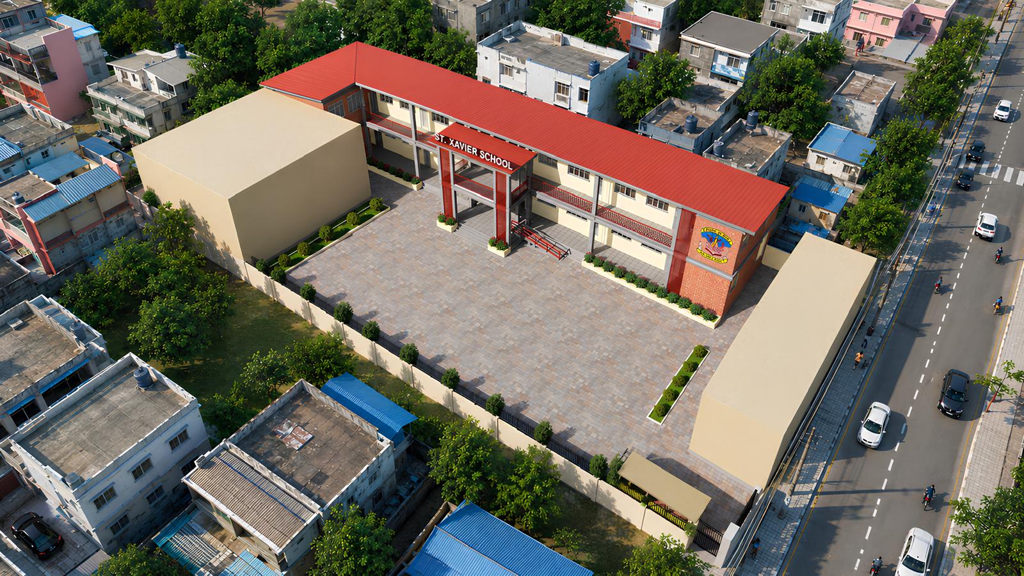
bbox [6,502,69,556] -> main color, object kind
black car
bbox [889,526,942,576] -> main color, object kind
white car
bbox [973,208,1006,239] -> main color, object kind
white car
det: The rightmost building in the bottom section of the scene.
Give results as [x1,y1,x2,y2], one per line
[685,233,877,485]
